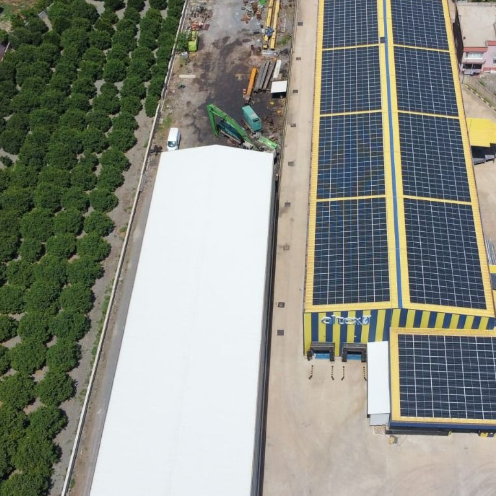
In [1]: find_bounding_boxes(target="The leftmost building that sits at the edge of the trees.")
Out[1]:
[88,147,274,496]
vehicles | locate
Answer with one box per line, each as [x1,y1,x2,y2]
[165,122,182,151]
[208,104,265,151]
